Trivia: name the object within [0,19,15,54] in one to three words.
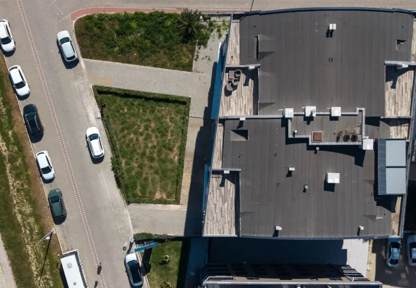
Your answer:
car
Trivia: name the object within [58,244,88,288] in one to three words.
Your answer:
vehicle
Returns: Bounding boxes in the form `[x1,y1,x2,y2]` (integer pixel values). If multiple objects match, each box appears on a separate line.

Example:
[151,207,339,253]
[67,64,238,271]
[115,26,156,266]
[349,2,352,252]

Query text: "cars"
[125,251,144,288]
[0,19,15,54]
[386,236,402,268]
[8,64,29,98]
[57,32,77,64]
[47,188,66,221]
[405,234,416,266]
[23,104,43,138]
[85,126,104,160]
[36,150,55,182]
